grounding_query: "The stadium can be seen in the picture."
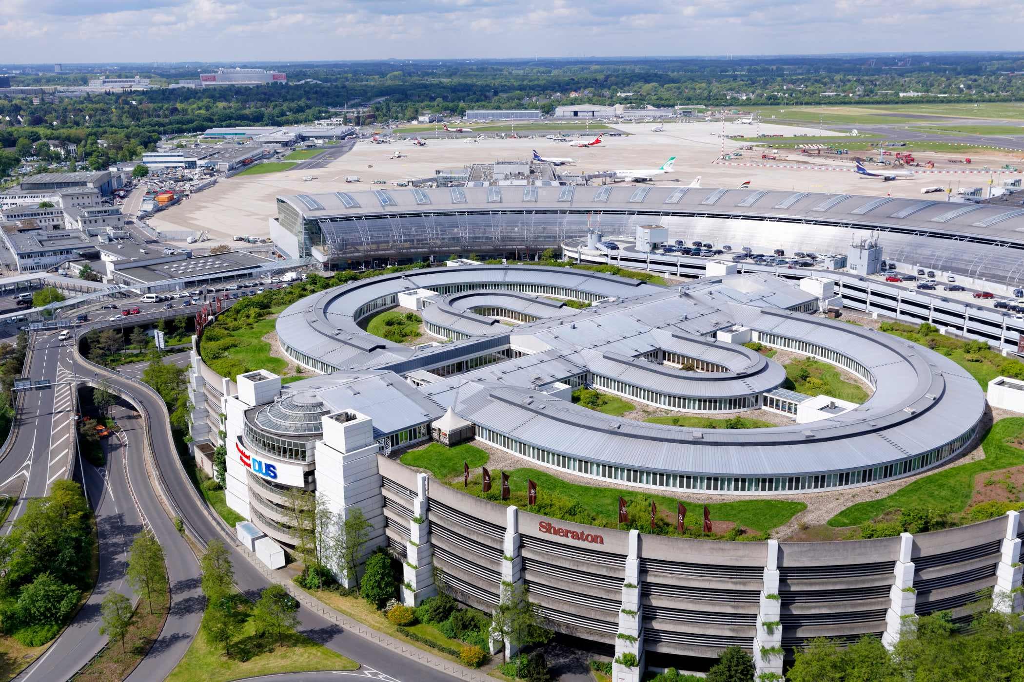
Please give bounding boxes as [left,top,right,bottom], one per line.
[199,68,301,87]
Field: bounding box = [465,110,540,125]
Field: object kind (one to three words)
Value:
hangar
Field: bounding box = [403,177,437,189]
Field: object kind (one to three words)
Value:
jet bridge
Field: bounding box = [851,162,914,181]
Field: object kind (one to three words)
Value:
airplane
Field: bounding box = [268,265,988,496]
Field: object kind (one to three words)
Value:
building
